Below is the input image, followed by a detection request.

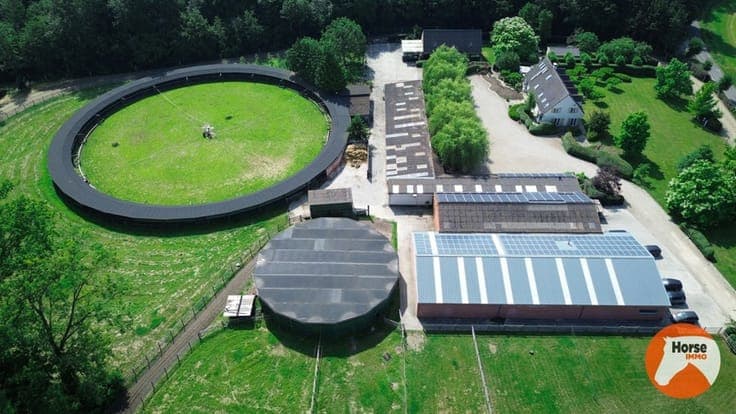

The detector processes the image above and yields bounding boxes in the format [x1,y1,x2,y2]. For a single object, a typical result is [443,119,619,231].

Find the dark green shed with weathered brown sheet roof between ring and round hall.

[308,187,353,213]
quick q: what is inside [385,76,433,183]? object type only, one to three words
building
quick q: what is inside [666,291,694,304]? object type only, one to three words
vehicle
